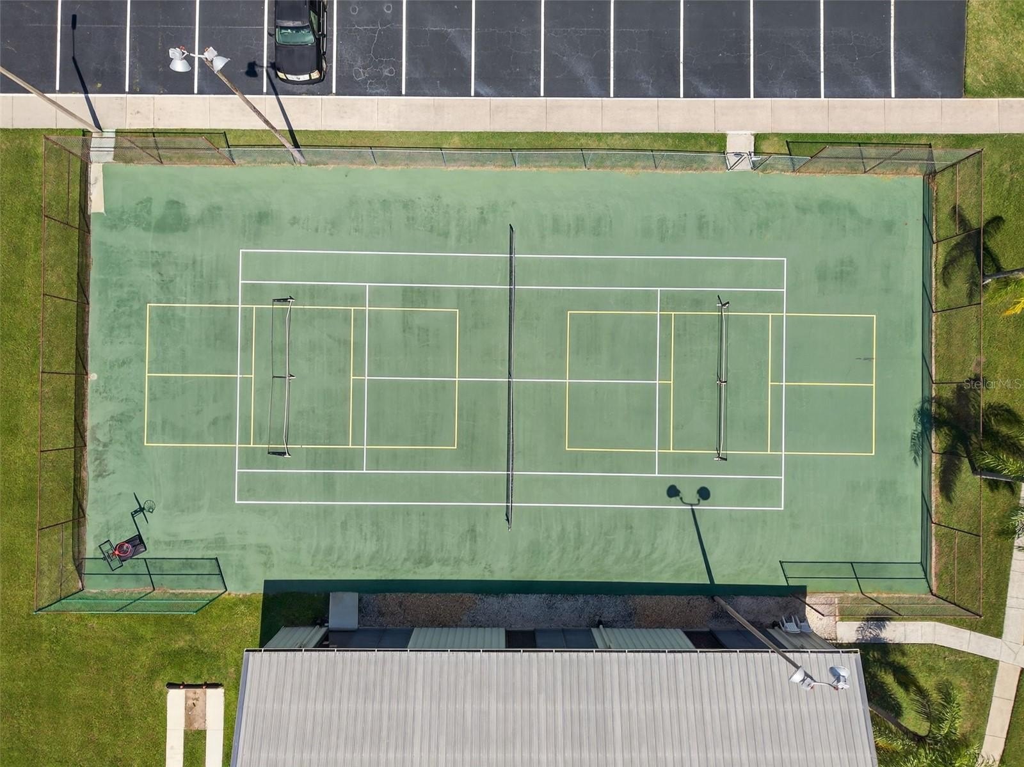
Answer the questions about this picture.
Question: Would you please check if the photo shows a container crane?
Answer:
No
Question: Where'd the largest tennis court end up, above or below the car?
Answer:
below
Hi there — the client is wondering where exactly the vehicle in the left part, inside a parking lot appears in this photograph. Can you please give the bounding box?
[267,0,329,87]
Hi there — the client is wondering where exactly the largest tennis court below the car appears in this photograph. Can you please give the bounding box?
[84,162,935,594]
